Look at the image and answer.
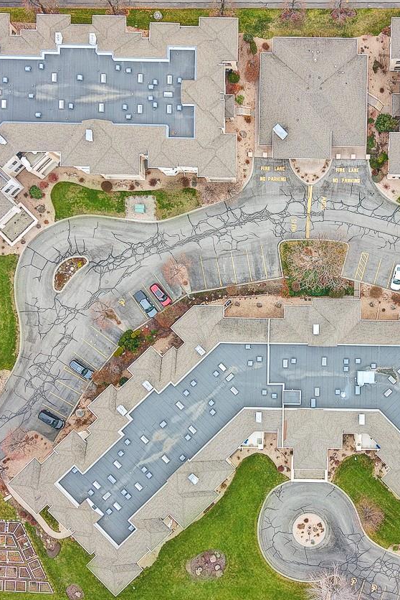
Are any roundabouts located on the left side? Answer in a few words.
No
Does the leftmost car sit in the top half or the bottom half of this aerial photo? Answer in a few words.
bottom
